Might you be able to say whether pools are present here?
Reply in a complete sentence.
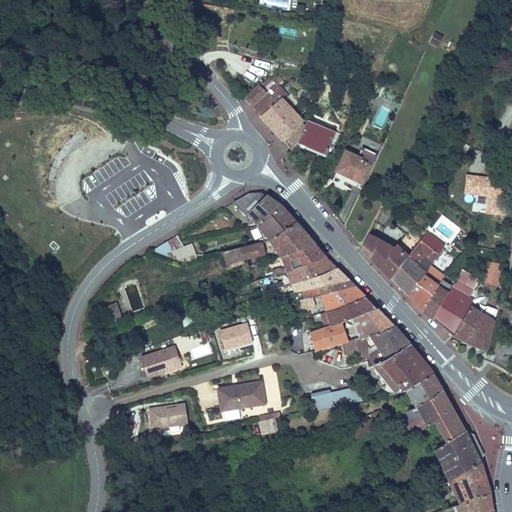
Yes, the image includes a pool.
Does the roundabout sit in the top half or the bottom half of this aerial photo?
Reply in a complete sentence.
The roundabout sits in the top half of the picture.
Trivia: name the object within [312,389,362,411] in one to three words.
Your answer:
building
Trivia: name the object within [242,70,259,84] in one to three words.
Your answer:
vehicle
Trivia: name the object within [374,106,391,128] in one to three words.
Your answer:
swimming pool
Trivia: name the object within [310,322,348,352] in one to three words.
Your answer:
house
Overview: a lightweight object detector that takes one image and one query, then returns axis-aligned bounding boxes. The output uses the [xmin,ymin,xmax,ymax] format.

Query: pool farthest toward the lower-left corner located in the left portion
[125,280,144,312]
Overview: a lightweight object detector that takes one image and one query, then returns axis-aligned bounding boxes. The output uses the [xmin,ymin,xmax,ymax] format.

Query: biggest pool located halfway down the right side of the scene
[432,215,461,244]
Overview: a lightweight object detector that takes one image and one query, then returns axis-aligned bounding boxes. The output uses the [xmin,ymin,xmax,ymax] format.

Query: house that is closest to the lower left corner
[150,402,188,435]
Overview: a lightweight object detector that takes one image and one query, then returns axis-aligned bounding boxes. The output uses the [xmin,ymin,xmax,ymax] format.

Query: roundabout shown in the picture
[200,120,280,196]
